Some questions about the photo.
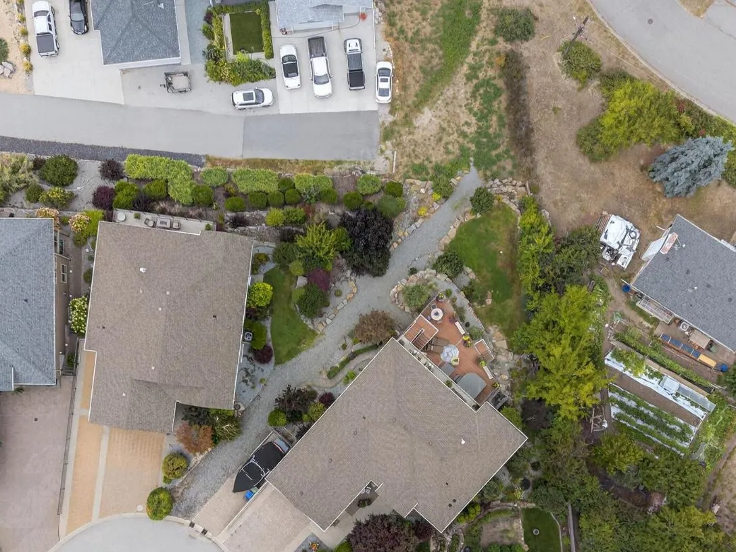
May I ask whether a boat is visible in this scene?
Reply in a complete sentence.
Yes, a boat is visible in the scene.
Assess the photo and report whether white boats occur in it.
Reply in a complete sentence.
No, no white boat is visible in the scene.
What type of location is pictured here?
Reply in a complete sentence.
The picture captures a residential area.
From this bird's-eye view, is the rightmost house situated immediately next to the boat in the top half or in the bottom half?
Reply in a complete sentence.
The bottom half of the photo is where the rightmost house situated immediately next to the boat is.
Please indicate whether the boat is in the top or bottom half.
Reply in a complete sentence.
The boat is in the bottom half of the image.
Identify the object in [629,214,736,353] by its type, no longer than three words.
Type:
house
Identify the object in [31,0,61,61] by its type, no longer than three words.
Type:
truck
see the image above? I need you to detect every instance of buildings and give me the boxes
[265,337,528,534]
[276,0,375,41]
[95,0,184,77]
[80,220,253,435]
[629,214,736,353]
[0,217,70,483]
